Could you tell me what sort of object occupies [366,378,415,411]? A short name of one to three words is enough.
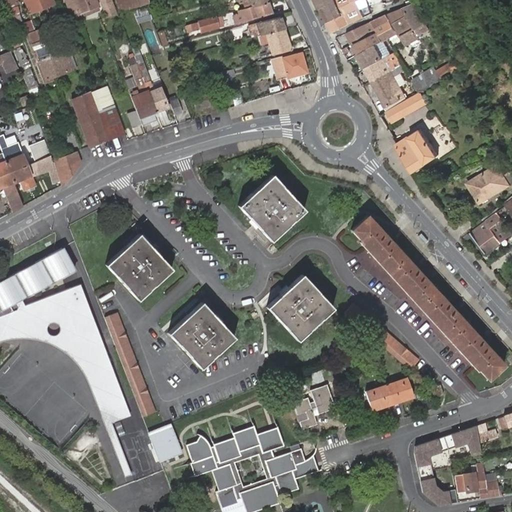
house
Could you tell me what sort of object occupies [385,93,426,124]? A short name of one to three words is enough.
house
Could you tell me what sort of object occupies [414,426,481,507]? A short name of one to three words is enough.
building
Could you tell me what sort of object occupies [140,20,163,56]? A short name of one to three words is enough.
swimming pool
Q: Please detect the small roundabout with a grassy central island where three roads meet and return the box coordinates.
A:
[303,94,374,164]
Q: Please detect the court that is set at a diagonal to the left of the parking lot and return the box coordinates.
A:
[0,352,88,444]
